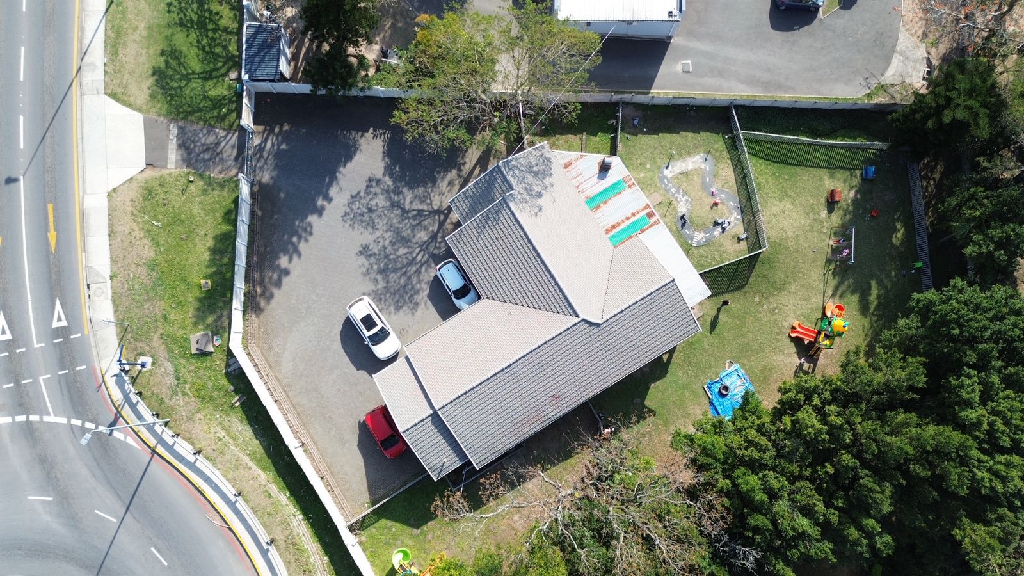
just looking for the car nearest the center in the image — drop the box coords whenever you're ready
[434,257,477,310]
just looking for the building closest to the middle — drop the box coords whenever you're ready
[372,141,712,482]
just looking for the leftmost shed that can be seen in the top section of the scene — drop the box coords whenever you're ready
[242,22,289,82]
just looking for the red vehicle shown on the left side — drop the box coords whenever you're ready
[362,404,405,457]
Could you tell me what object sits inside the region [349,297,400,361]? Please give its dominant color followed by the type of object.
white car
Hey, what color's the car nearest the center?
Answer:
blue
